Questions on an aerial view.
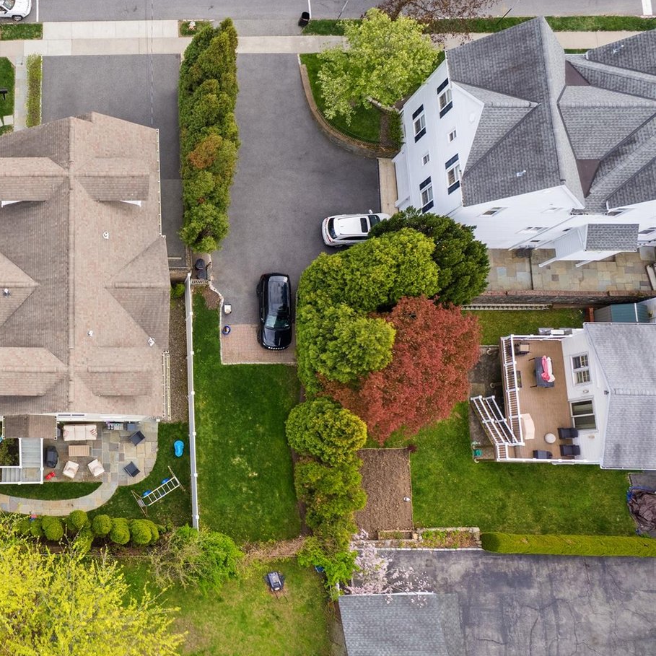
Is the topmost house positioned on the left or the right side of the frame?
right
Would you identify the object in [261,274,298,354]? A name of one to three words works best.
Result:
car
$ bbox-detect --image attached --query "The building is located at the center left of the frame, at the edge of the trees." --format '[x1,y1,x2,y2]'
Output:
[0,112,171,439]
